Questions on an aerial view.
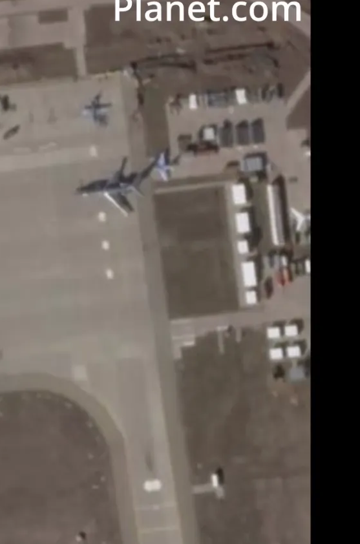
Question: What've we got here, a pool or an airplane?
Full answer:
The one in the frame is an airplane.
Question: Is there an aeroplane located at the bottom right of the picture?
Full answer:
No, at the bottom right of the picture there is no aeroplane.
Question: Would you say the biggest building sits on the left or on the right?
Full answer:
It is on the right.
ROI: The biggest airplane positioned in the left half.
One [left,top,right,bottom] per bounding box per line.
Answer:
[76,150,167,209]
